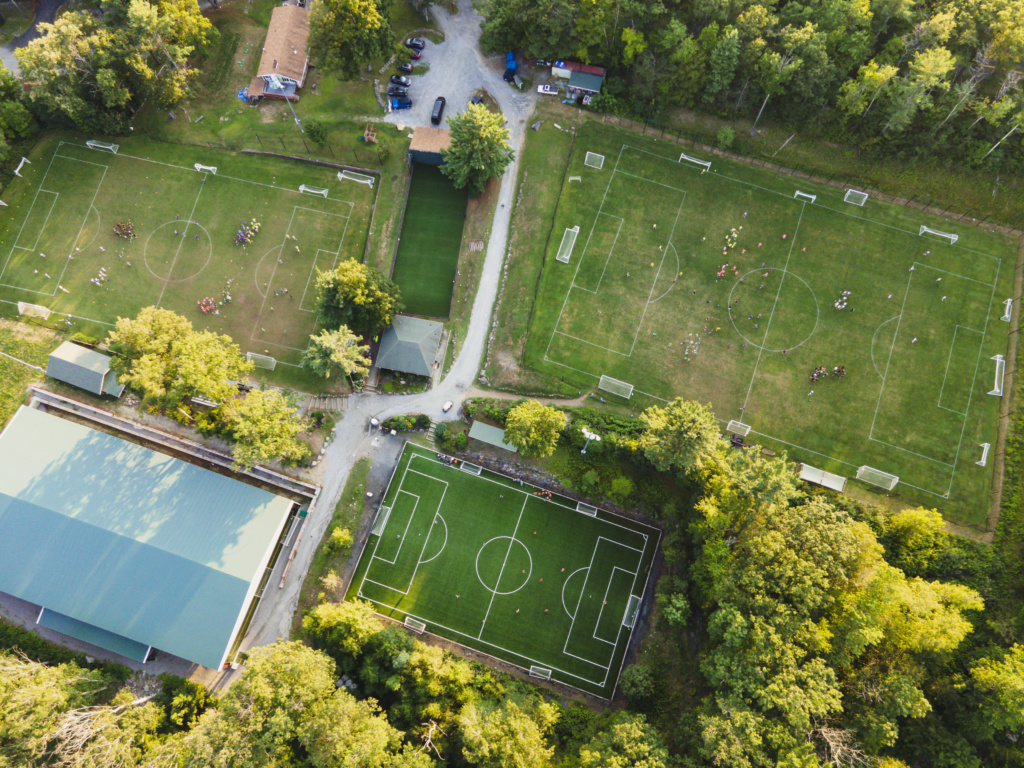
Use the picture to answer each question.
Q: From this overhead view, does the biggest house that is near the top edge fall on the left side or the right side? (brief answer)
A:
left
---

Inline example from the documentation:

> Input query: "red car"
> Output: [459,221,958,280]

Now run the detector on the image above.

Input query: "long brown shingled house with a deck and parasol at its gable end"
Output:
[248,1,310,101]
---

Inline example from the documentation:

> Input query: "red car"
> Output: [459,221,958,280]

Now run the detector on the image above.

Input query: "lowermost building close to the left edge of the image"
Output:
[0,402,307,672]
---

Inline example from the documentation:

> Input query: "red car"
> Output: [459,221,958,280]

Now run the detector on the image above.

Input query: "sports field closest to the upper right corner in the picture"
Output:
[530,138,1014,507]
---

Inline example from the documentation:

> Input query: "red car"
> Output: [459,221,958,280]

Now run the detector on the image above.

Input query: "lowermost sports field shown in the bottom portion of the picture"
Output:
[343,442,662,701]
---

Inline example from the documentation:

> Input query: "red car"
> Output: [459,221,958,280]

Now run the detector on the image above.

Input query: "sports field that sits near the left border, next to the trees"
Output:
[0,140,359,370]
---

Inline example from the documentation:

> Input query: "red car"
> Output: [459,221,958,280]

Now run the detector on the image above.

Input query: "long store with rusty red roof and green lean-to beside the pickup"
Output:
[553,60,606,98]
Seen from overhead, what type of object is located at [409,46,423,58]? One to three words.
vehicle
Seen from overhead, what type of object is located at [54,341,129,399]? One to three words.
shed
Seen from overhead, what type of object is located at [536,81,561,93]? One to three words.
vehicle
